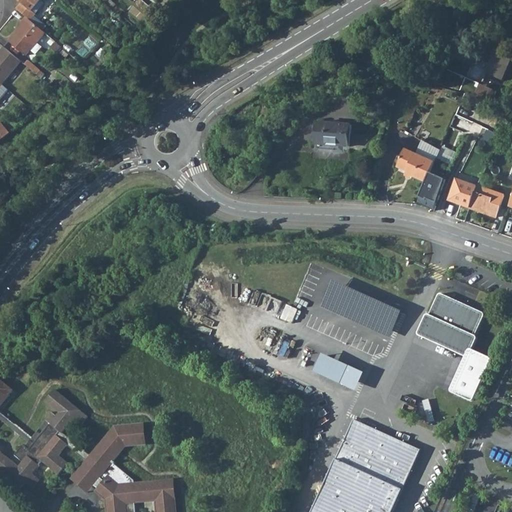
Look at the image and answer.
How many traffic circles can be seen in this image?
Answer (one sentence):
I count 1 traffic circle.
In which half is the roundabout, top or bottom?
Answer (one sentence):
The roundabout is in the top half of the image.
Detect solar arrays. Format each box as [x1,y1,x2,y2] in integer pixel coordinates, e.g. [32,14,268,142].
[322,280,400,336]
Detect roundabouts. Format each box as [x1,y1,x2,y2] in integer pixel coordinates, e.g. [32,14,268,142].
[124,107,208,190]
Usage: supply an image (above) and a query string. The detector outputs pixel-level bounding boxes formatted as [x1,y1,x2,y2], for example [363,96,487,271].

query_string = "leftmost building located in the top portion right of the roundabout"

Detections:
[303,120,349,147]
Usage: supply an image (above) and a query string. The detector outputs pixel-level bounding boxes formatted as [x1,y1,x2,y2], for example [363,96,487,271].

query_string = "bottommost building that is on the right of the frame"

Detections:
[311,420,421,512]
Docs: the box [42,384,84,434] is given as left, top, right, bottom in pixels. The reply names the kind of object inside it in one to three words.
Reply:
house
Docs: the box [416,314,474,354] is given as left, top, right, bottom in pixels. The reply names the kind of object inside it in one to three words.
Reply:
building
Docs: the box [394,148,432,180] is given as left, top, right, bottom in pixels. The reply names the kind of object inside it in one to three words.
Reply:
house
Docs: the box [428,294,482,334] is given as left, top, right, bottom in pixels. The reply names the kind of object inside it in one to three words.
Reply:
building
